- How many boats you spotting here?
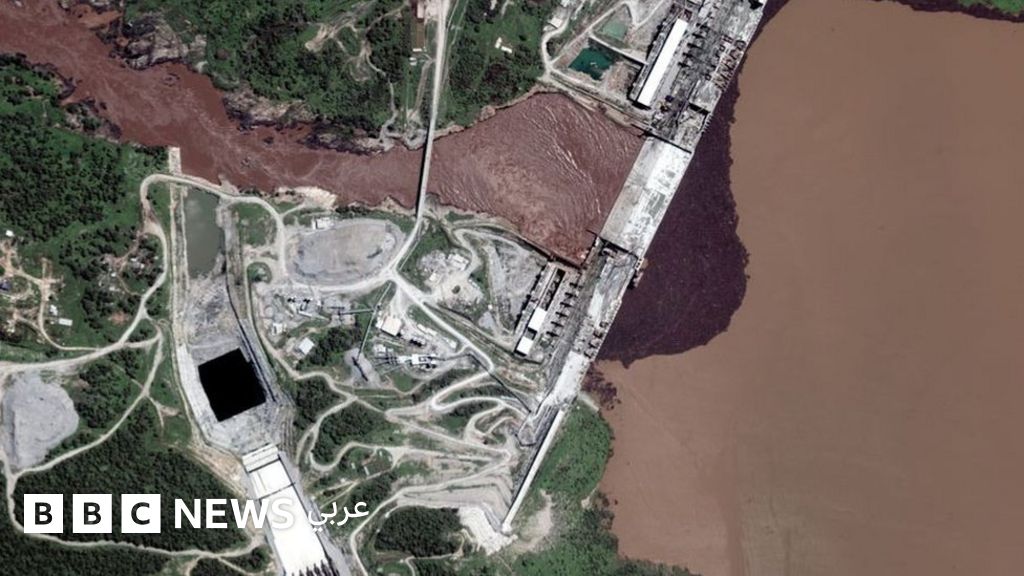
0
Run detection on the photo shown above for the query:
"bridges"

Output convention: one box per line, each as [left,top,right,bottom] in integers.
[415,119,434,218]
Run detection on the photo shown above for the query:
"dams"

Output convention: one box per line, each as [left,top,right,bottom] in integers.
[500,0,766,539]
